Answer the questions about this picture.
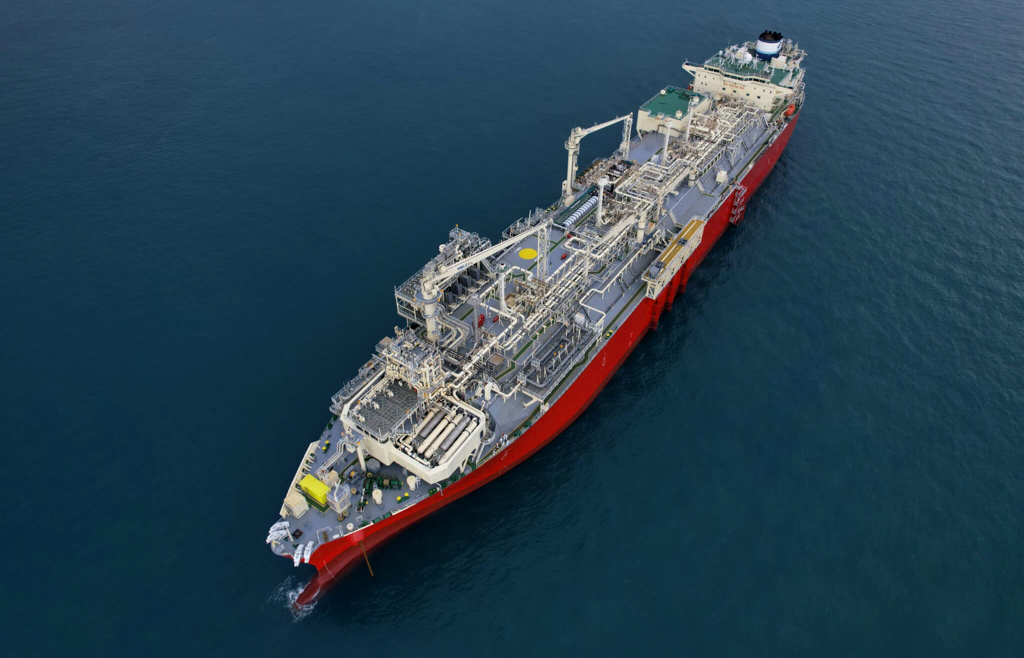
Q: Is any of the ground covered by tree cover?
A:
No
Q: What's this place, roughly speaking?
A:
port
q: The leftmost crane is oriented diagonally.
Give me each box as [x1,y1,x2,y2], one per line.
[407,215,553,329]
